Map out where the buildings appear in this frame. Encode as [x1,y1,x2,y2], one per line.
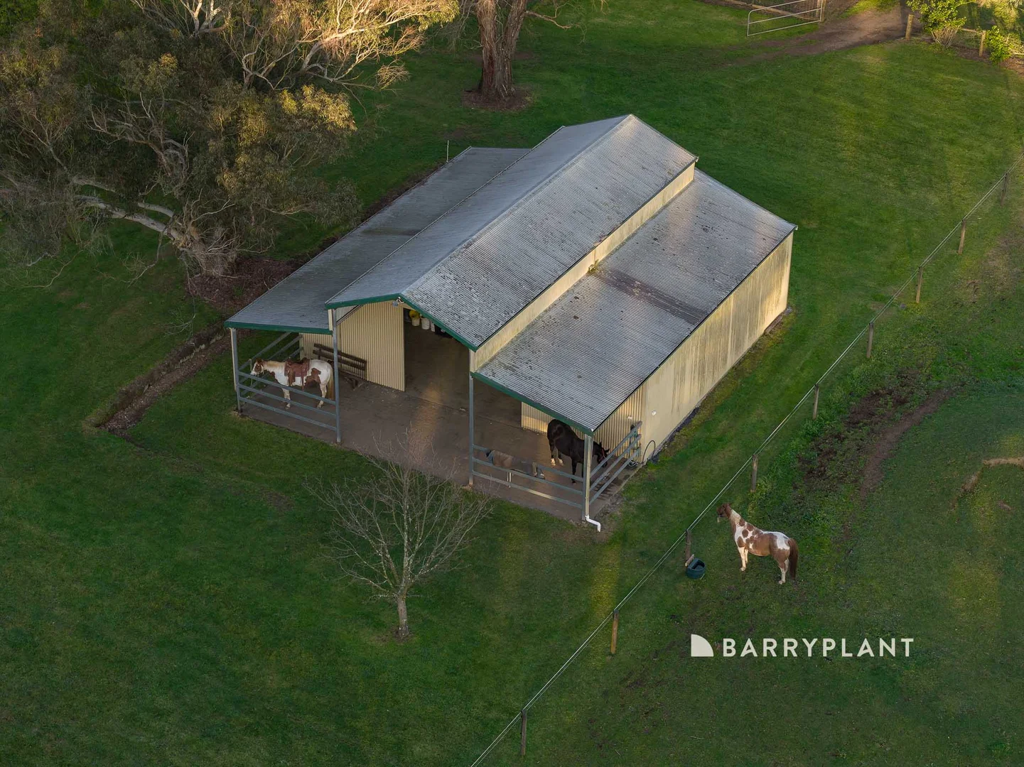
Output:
[222,111,800,533]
